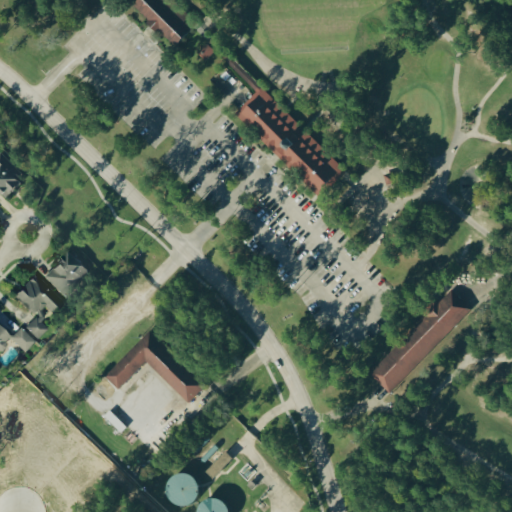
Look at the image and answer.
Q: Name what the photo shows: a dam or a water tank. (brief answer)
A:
water tank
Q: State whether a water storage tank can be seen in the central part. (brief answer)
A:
No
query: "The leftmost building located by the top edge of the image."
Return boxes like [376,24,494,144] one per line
[128,0,188,45]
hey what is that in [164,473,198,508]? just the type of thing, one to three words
water tank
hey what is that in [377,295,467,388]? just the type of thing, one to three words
building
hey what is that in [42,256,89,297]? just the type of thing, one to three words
house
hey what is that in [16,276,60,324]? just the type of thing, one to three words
house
